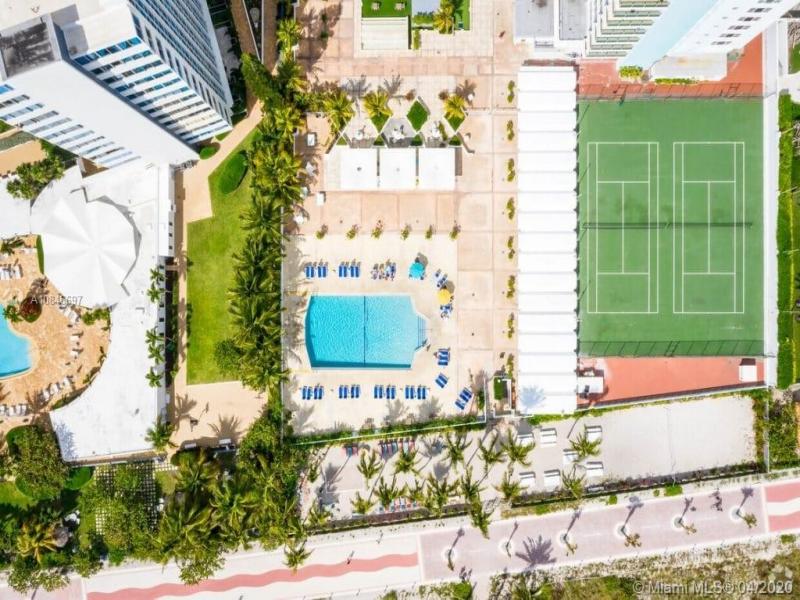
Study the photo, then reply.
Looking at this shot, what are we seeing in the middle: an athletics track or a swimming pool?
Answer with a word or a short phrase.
swimming pool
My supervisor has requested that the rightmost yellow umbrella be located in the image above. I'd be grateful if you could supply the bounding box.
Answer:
[438,290,451,304]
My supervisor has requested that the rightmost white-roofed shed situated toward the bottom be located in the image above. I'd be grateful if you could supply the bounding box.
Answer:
[578,377,605,394]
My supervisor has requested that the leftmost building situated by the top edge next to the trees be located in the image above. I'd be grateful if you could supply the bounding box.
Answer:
[0,0,232,170]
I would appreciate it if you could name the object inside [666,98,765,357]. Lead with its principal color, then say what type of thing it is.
green tennis court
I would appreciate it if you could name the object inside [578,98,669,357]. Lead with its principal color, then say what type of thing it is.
green tennis court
